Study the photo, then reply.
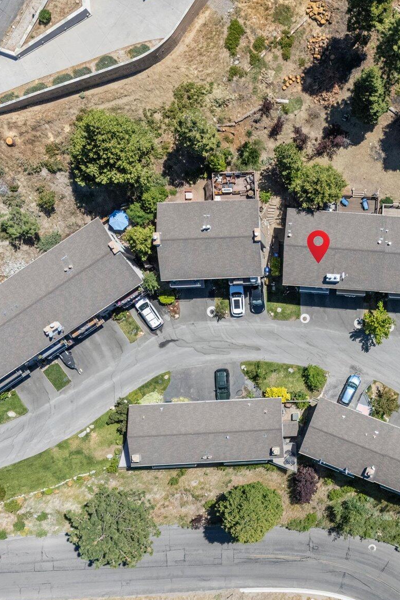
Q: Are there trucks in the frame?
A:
No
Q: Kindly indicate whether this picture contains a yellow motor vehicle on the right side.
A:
No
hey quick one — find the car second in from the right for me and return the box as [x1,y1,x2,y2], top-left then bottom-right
[249,285,265,314]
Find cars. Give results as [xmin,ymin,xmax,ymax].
[136,298,163,332]
[229,285,246,318]
[249,285,265,314]
[213,368,230,400]
[339,373,361,405]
